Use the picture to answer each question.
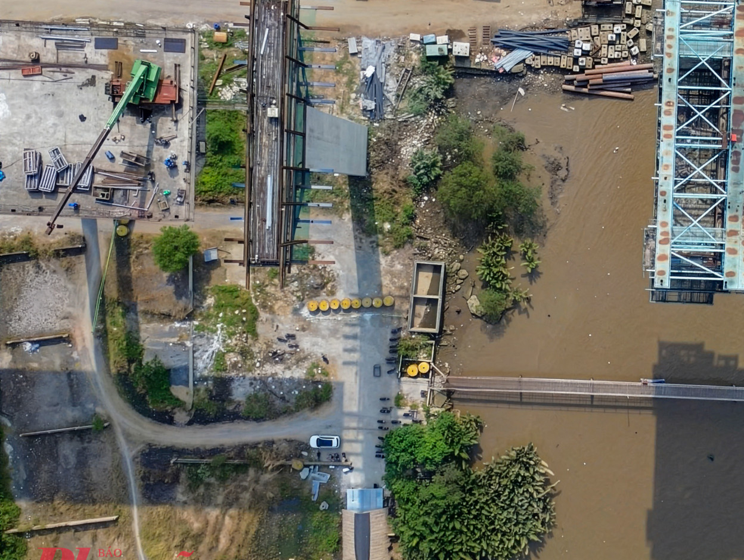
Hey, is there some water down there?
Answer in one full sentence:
Yes, there's water in this view.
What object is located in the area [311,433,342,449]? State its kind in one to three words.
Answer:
car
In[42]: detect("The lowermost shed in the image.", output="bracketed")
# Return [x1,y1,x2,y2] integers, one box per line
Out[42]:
[341,510,389,560]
